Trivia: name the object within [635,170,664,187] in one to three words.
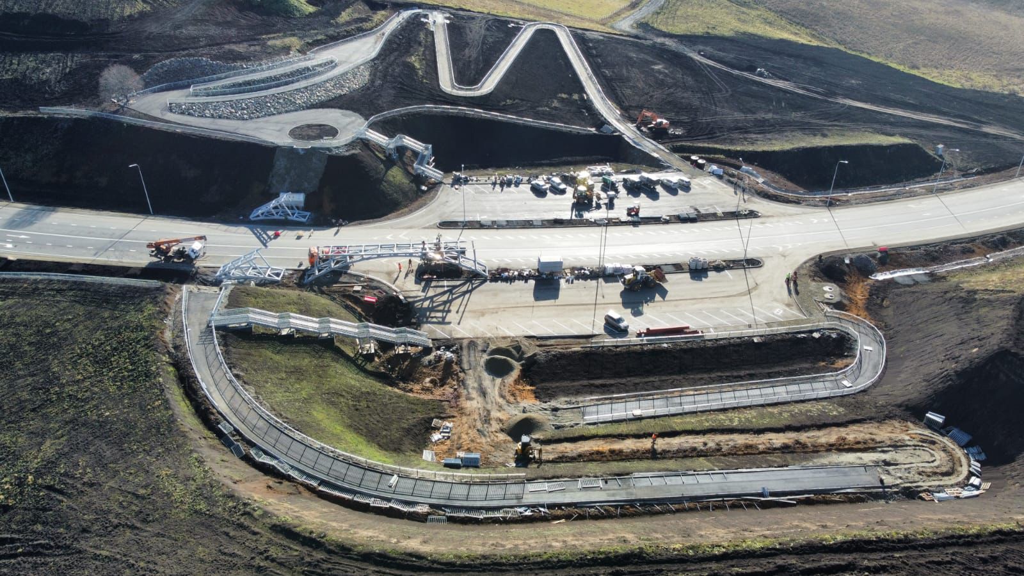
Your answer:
vehicle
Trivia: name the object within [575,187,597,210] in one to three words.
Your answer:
work vehicle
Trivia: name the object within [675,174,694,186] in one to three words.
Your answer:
vehicle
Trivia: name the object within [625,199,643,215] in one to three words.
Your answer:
work vehicle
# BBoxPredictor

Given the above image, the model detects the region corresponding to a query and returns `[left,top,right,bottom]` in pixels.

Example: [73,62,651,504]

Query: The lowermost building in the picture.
[537,255,564,276]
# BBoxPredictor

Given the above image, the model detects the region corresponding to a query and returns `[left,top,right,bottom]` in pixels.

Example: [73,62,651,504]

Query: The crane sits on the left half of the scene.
[147,239,211,266]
